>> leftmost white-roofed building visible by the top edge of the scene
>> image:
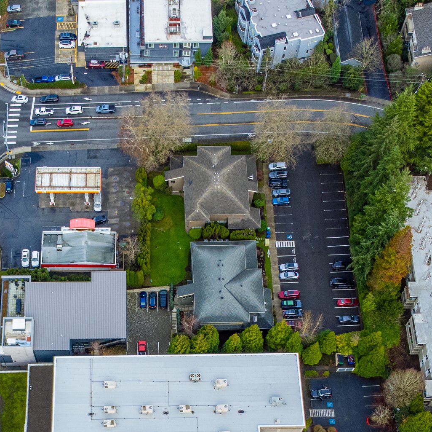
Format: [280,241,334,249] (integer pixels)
[77,0,128,63]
